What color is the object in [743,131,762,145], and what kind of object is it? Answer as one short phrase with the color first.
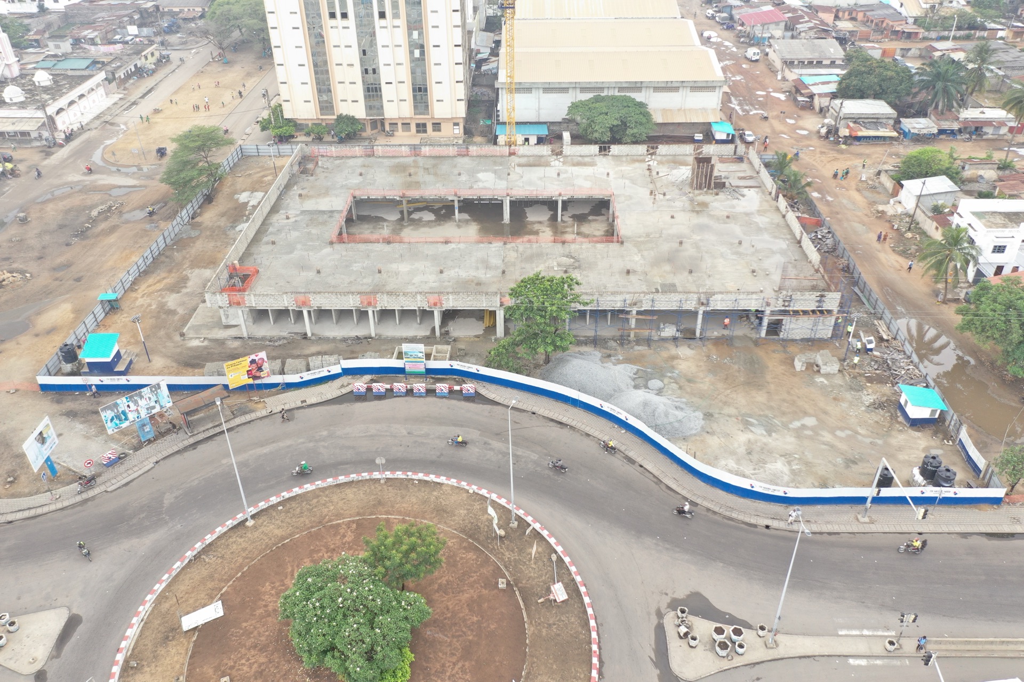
white car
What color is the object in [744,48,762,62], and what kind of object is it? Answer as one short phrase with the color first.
white vehicle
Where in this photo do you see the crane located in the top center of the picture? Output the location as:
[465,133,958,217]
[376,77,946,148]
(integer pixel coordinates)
[492,0,530,155]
